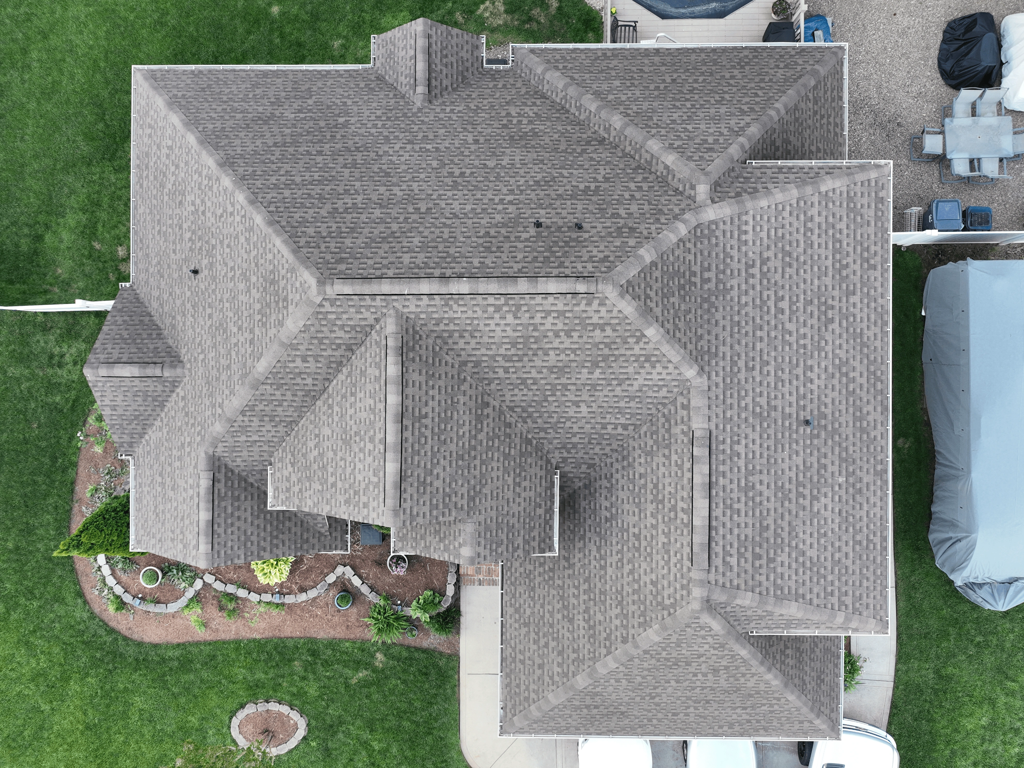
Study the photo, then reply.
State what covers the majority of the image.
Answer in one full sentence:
What you mostly see from above here is buildings.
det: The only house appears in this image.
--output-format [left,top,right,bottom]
[82,17,893,739]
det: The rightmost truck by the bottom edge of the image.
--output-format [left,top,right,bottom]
[798,703,897,768]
